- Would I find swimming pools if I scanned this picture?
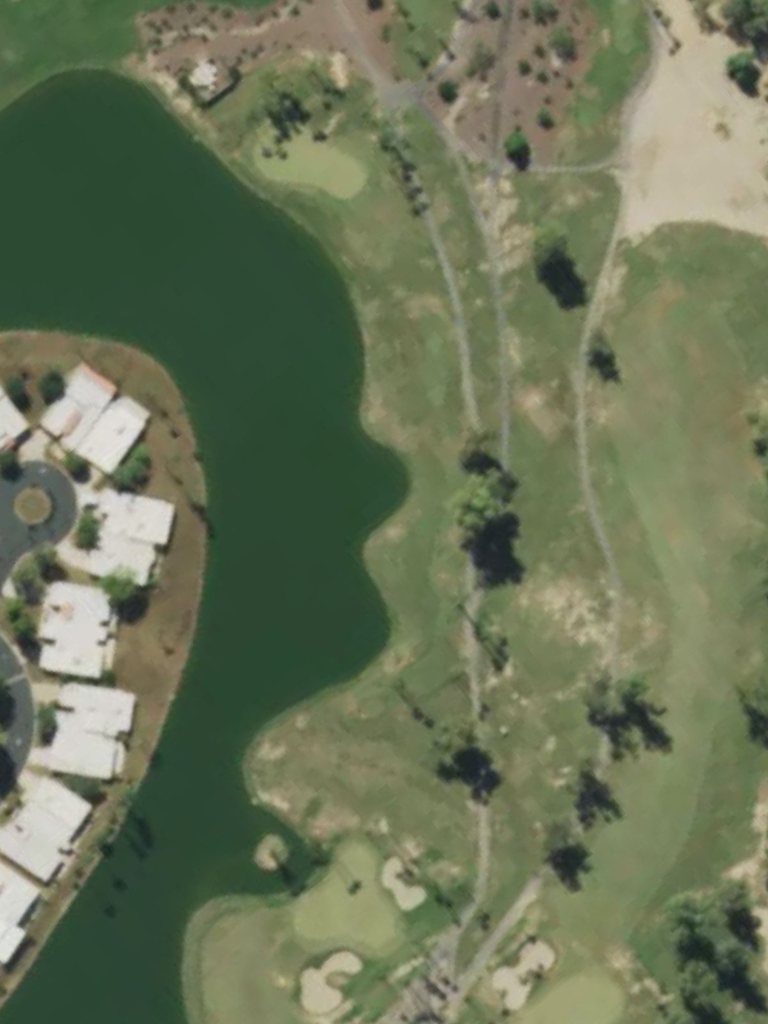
No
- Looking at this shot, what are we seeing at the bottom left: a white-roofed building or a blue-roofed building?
white-roofed building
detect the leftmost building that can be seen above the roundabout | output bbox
[0,386,30,450]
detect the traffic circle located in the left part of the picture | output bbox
[13,485,52,524]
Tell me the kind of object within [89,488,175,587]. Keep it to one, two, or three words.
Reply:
house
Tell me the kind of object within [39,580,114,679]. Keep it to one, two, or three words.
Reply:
house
